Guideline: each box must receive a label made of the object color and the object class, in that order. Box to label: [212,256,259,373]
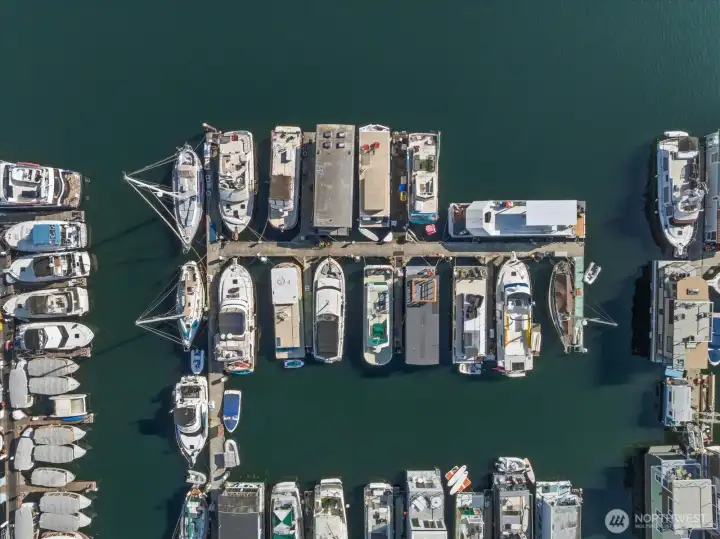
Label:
white boat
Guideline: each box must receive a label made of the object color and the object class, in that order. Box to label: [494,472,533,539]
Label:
gray boat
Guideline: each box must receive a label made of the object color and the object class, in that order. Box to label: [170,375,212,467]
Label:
white boat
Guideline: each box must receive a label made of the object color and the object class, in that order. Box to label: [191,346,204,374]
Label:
blue boat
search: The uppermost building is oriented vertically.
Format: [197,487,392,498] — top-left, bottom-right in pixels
[313,124,356,243]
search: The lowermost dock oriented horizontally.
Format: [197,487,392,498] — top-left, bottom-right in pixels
[14,481,96,494]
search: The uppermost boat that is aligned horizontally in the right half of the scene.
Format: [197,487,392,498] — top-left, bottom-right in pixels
[444,200,586,243]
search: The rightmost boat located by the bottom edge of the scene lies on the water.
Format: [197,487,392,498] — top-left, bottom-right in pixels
[641,444,720,539]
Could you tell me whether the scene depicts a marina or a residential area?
marina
